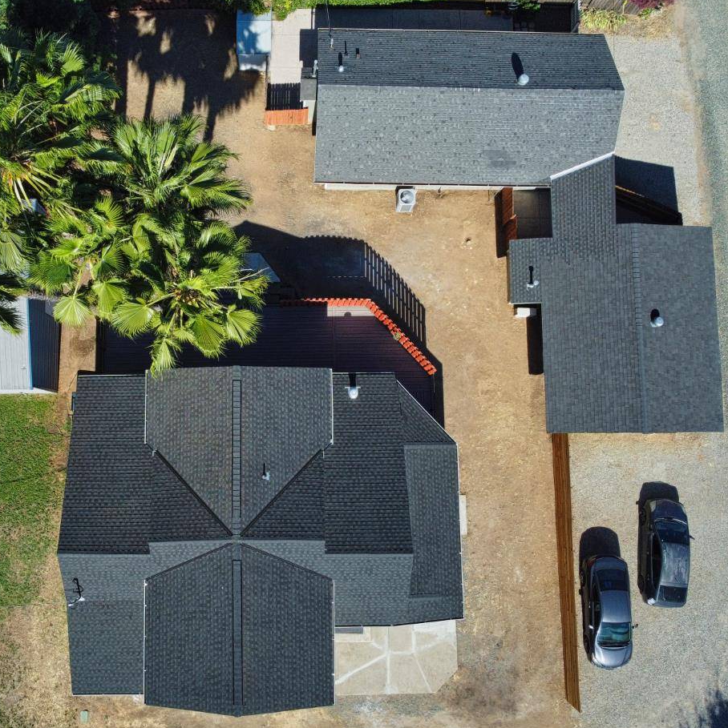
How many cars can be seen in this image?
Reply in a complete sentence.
The photo contains 2 cars.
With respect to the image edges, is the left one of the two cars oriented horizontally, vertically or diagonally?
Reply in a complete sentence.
I'd say the left one of the two cars is aligned vertically in the picture.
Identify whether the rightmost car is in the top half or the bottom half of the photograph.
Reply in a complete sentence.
The rightmost car is in the bottom half of the image.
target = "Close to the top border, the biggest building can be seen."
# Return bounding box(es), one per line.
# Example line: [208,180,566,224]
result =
[296,28,623,194]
